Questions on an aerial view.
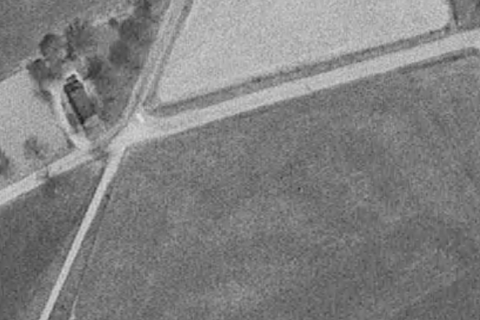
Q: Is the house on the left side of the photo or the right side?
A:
left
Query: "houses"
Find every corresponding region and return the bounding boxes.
[67,75,97,119]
